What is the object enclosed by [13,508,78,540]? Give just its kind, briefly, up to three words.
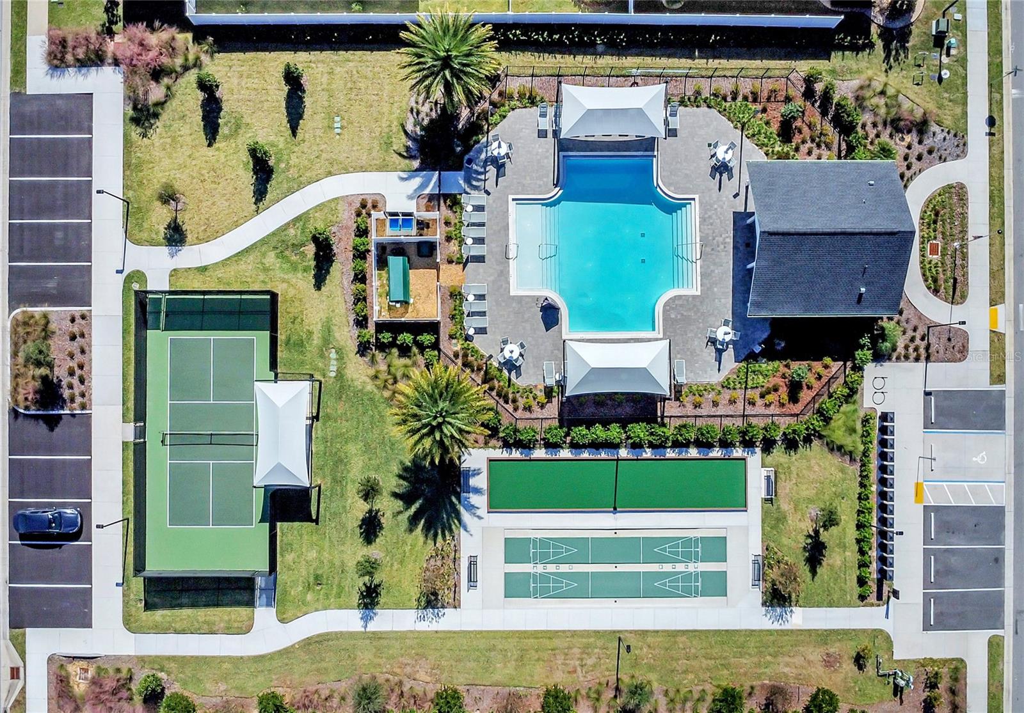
car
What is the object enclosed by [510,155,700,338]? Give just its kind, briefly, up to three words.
swimming pool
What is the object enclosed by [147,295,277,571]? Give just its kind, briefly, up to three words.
sports court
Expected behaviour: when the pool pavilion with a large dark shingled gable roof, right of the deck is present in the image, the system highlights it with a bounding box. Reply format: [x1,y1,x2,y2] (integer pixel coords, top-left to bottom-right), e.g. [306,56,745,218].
[743,160,914,318]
